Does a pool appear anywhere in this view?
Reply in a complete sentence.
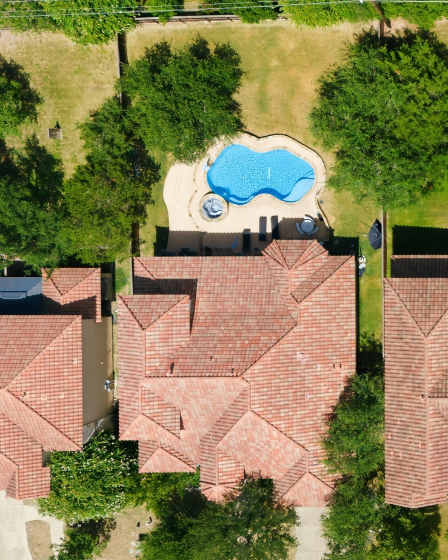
Yes, there's a pool here.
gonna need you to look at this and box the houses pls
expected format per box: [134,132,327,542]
[116,239,357,508]
[383,254,448,508]
[0,267,114,500]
